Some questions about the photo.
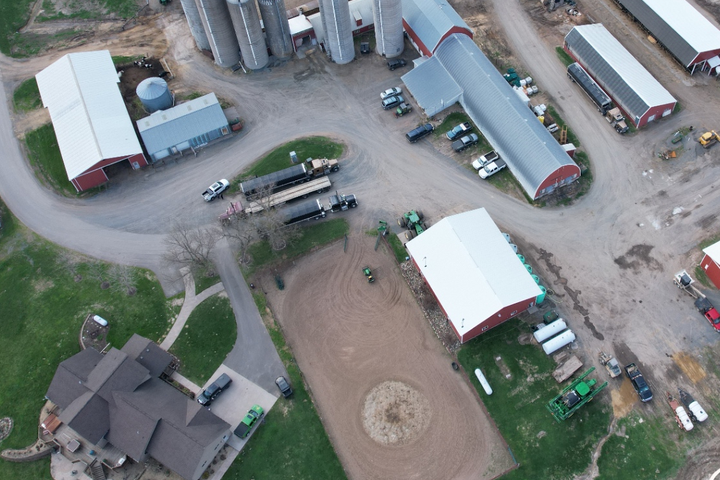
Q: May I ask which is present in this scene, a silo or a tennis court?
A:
silo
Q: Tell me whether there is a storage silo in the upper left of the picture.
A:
Yes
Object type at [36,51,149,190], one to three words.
barn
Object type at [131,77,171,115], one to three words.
silo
